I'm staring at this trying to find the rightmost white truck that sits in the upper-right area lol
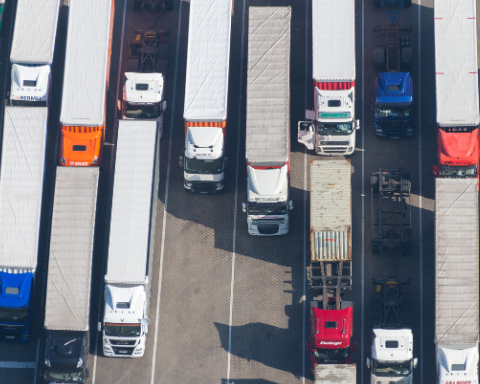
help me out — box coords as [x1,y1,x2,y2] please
[434,0,480,193]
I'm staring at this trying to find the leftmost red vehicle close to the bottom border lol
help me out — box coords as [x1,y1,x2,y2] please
[305,263,359,372]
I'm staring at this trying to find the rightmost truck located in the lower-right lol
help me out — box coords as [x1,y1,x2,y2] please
[433,177,480,384]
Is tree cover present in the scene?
No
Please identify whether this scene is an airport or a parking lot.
parking lot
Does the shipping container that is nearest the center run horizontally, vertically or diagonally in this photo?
vertically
